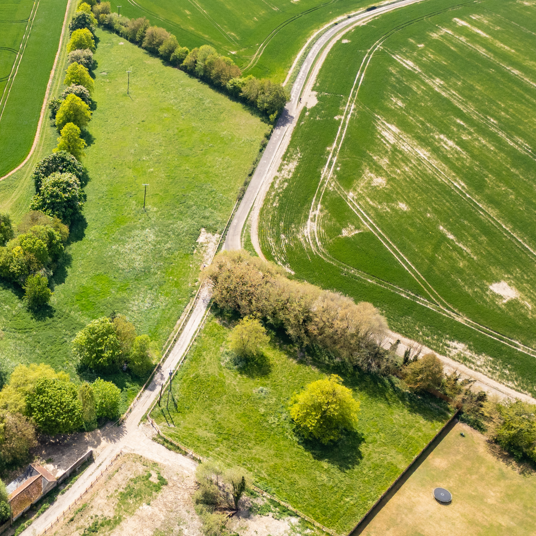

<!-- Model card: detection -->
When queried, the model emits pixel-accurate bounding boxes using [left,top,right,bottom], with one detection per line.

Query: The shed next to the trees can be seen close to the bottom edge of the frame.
[4,464,56,521]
